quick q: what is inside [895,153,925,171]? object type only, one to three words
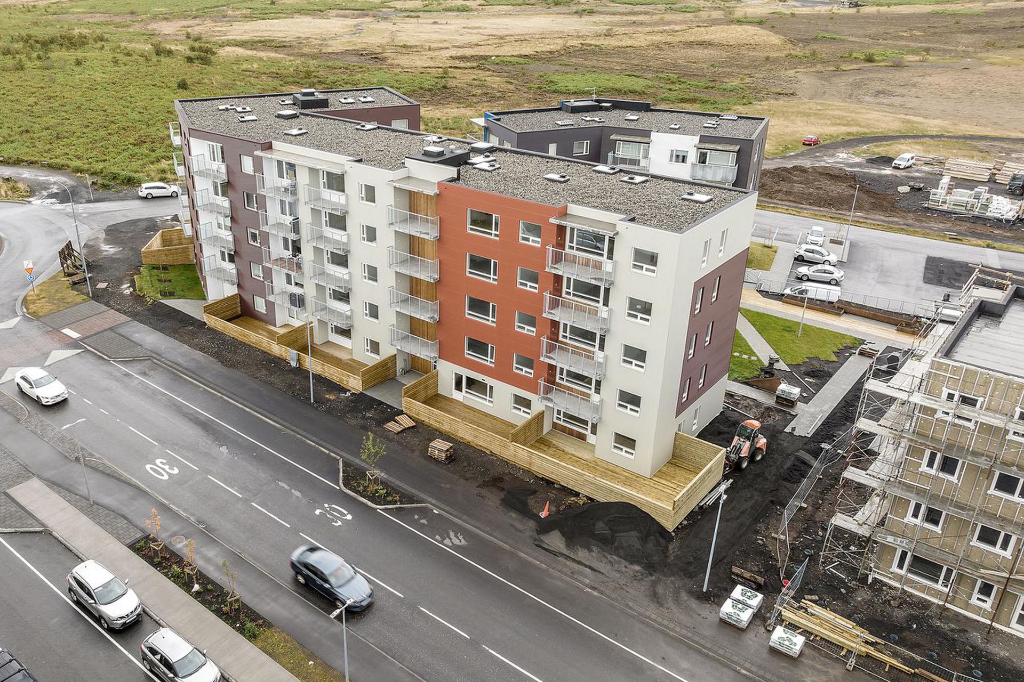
vehicle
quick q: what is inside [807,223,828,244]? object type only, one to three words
car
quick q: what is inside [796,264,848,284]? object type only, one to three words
car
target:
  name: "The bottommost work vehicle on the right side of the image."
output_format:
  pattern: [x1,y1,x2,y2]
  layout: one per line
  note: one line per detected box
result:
[722,425,769,476]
